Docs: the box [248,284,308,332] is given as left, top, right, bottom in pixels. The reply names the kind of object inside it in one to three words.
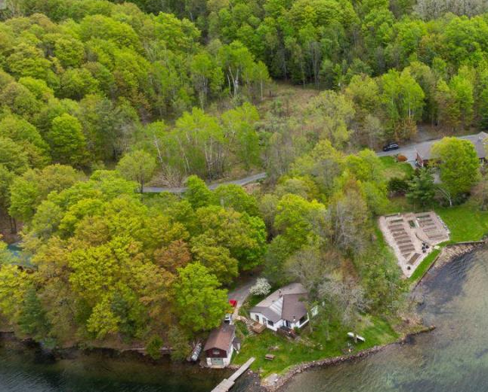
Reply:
house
